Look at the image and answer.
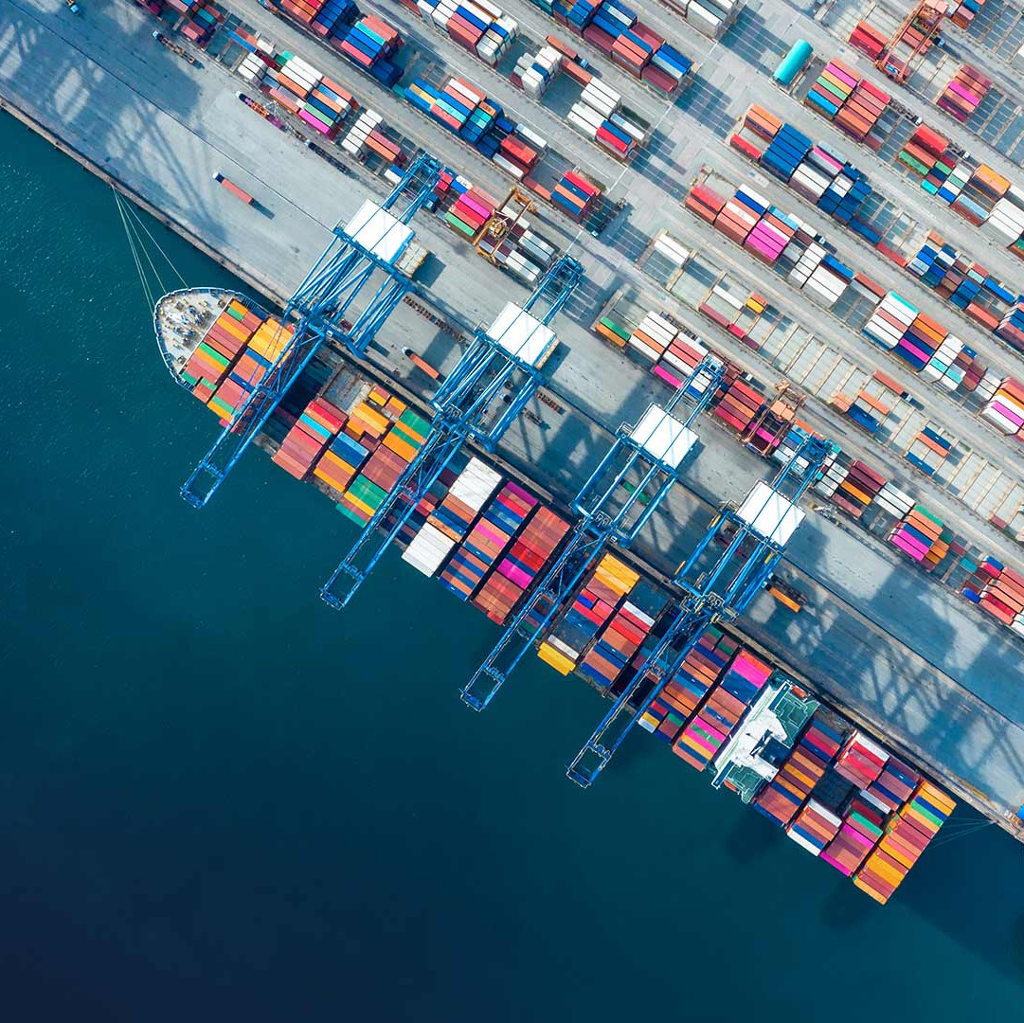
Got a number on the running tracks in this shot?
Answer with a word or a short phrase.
none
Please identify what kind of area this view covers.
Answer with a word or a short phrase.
port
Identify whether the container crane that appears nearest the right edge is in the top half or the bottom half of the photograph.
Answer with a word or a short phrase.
top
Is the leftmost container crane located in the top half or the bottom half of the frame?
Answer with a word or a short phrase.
top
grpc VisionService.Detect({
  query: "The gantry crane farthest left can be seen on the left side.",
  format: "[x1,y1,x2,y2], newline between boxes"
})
[179,151,445,511]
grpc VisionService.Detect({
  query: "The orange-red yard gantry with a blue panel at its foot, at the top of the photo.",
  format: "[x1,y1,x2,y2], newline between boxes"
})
[869,7,943,103]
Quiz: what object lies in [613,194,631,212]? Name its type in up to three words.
work vehicle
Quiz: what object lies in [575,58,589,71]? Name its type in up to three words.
vehicle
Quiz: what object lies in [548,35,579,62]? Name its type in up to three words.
shipping container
